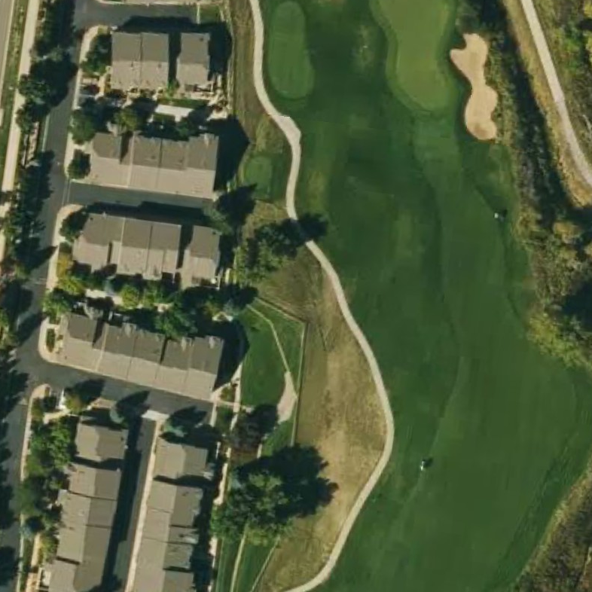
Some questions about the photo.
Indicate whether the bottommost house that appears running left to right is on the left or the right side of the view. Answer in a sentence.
The bottommost house that appears running left to right appears in the left half of the scene.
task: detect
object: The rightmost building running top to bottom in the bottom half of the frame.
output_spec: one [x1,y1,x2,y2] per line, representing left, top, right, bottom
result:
[132,437,209,592]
